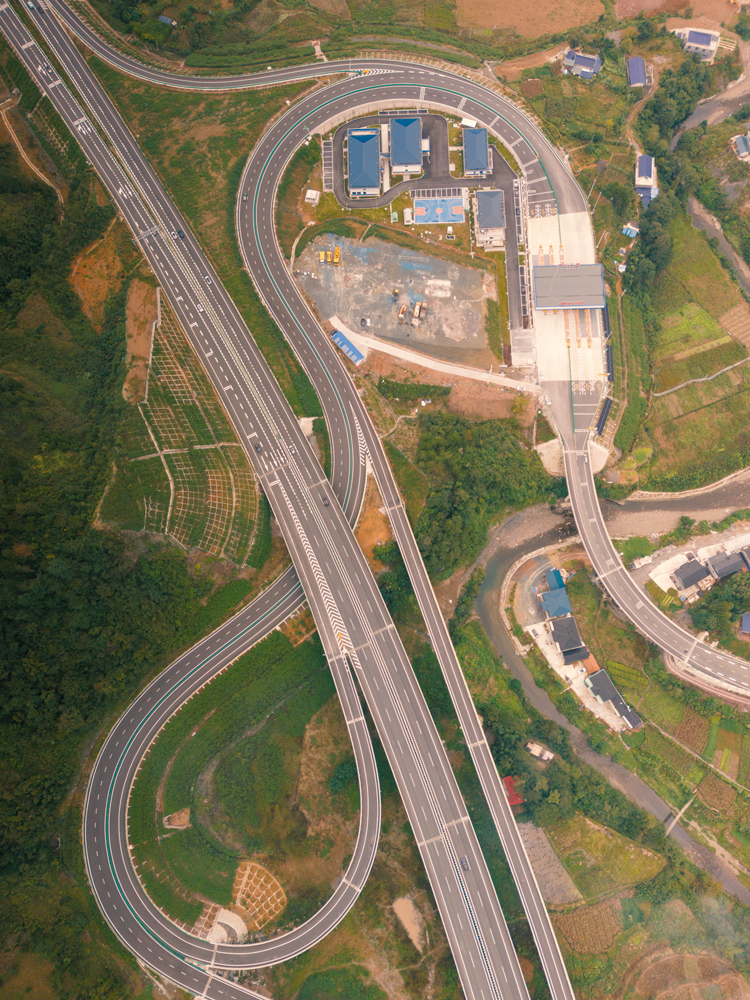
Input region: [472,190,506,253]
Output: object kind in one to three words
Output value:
building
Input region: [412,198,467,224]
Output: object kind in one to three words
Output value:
basketball court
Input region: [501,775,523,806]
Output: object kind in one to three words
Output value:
shed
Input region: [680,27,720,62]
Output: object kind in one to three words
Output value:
house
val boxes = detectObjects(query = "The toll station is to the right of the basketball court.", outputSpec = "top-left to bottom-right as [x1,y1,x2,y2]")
[524,205,606,391]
